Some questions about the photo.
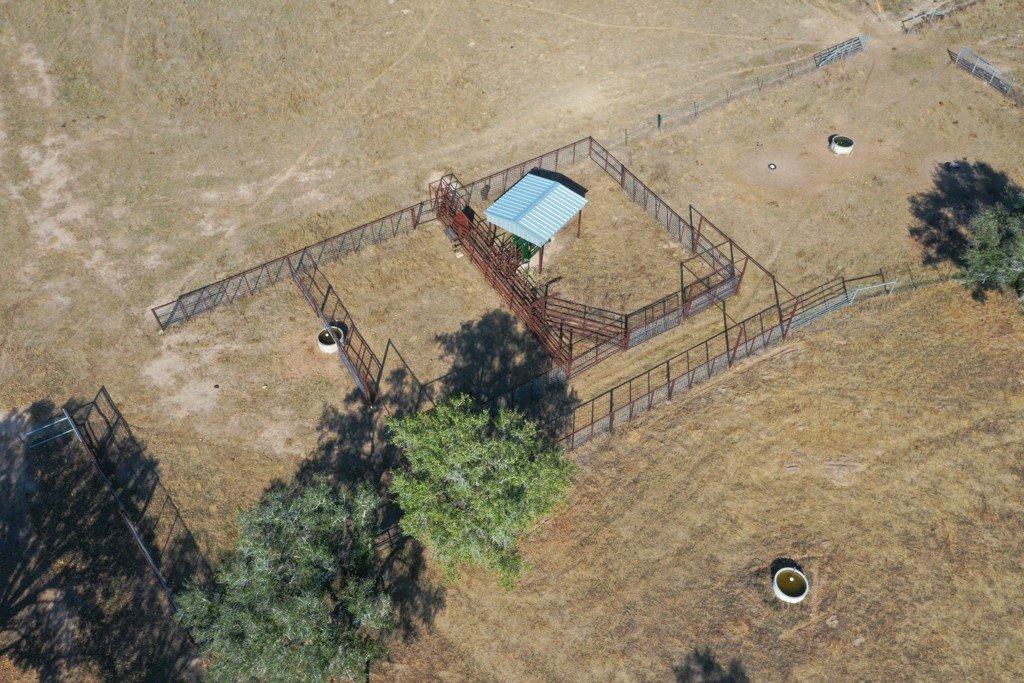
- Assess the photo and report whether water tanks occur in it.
Yes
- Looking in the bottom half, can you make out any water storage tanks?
Yes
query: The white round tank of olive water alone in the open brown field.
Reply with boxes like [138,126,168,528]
[769,565,808,604]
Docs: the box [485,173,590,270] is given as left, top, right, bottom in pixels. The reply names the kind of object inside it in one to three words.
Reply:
shed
